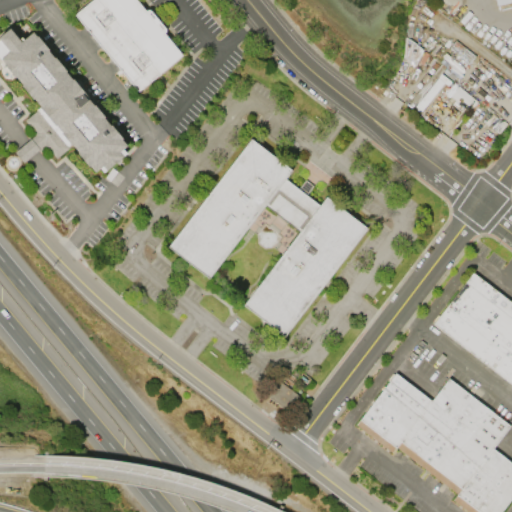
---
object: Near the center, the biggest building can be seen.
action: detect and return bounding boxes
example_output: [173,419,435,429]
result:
[169,138,370,334]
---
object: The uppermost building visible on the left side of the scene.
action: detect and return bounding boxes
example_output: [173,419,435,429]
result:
[76,0,184,92]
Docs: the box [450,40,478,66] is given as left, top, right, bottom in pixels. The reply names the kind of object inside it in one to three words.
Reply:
shed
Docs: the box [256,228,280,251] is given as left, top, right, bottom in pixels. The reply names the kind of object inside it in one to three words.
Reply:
gazebo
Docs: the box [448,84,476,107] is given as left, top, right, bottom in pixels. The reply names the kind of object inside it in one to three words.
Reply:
shed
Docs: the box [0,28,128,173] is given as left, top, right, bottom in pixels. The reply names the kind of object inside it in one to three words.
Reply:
building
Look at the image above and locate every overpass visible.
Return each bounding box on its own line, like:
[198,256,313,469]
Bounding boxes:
[0,454,286,512]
